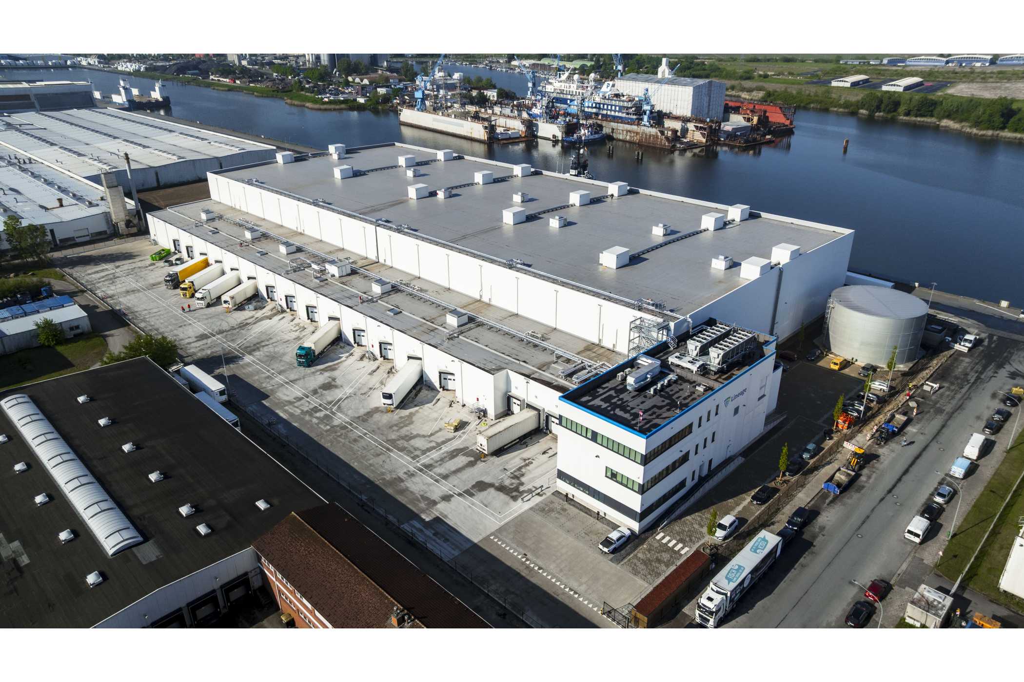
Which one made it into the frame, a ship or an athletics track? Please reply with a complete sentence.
It is a ship that can be seen here.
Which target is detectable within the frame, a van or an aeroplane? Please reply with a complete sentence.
The one in the frame is a van.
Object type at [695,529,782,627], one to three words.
truck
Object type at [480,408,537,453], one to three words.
trailer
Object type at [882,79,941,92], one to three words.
shed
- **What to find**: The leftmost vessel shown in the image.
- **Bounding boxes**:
[110,73,170,106]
